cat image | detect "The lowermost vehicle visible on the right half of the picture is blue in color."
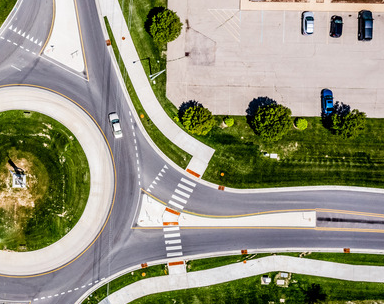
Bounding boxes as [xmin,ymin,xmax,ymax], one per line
[319,88,335,116]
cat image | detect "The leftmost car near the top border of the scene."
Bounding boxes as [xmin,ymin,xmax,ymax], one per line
[299,11,315,37]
